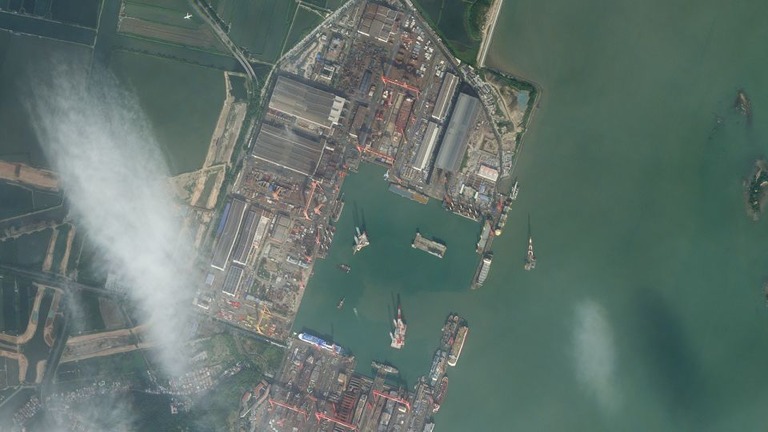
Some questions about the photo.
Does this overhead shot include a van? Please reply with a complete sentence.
No, there's no van here.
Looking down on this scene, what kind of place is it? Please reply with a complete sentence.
This looks like a port.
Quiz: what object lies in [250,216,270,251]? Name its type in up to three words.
building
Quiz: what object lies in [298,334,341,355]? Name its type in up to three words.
ship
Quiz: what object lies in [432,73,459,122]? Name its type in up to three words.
building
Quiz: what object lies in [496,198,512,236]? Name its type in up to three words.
ship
